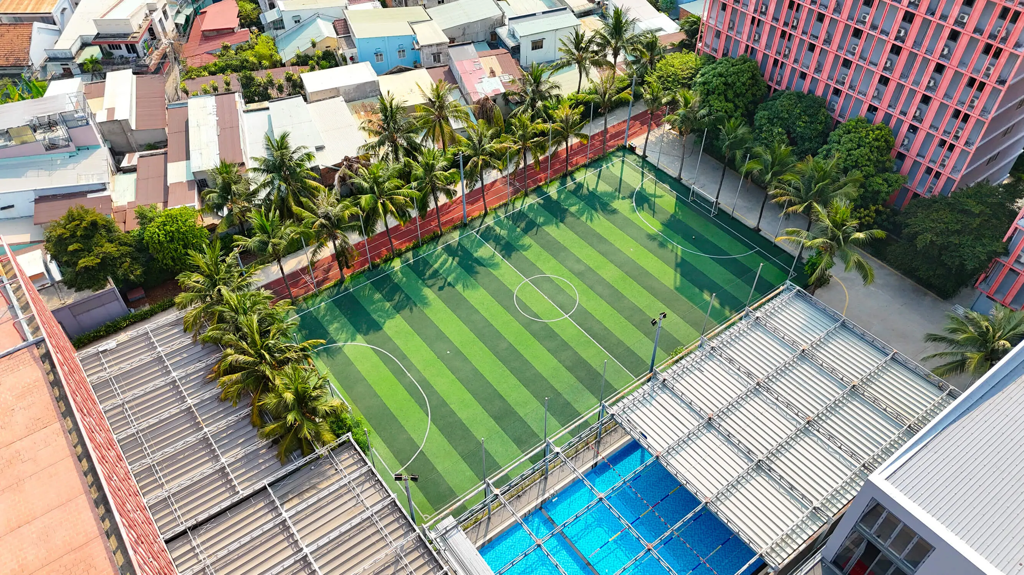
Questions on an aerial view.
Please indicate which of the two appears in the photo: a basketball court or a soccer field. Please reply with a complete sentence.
Looking from above, you can make out a soccer field.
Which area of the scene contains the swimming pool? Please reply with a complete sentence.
The swimming pool is in the bottom part of the image.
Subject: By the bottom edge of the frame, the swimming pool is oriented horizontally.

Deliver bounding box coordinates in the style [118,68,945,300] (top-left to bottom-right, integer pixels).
[483,440,759,575]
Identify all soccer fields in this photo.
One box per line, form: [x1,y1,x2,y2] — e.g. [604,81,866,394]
[283,148,816,539]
